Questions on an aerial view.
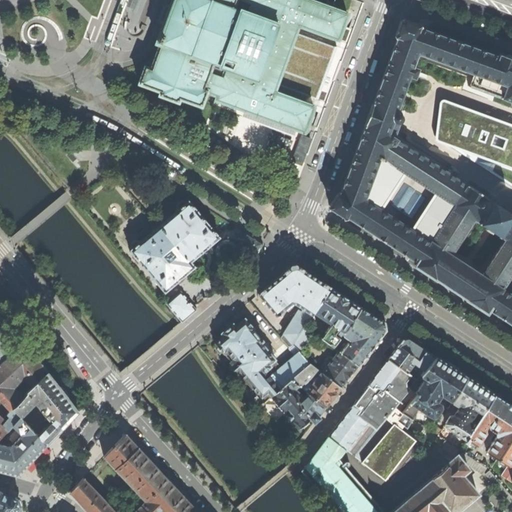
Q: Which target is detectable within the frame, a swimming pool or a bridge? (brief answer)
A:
bridge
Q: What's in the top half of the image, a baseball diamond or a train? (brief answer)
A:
train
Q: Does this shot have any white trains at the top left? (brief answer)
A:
Yes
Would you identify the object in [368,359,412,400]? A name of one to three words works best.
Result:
house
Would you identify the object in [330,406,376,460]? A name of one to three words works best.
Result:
house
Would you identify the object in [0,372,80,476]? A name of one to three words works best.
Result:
building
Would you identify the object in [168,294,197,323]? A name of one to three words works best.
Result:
shed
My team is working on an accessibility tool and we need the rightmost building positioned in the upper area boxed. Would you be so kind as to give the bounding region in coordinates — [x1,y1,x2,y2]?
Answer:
[438,100,512,174]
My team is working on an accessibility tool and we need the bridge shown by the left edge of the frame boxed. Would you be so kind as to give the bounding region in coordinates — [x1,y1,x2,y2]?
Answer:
[8,192,71,246]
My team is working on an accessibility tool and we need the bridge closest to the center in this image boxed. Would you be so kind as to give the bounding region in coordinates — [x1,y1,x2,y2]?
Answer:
[127,320,200,386]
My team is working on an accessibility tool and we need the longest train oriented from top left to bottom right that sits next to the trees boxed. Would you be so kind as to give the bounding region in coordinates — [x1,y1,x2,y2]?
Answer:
[92,114,184,174]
